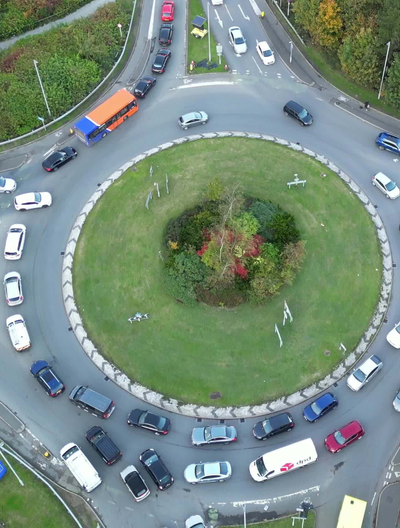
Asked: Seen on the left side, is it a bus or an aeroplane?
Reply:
bus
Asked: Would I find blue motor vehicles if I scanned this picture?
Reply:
Yes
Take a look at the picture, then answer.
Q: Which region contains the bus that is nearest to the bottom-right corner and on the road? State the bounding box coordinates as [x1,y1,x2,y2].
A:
[340,496,372,528]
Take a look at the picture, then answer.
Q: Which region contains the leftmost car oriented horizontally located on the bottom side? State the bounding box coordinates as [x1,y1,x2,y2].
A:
[126,412,172,438]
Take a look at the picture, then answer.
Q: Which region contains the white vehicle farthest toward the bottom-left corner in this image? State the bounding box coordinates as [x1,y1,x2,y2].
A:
[59,437,104,499]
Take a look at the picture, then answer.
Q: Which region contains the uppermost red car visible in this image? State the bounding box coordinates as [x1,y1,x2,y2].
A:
[160,1,174,22]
